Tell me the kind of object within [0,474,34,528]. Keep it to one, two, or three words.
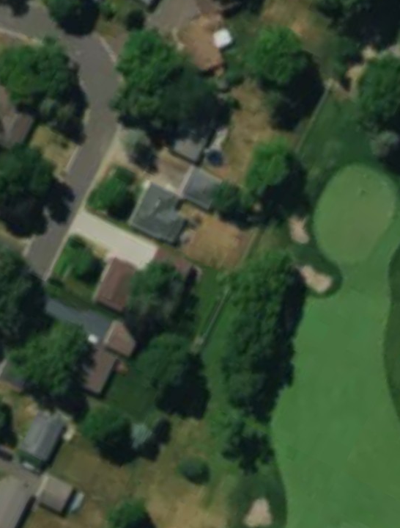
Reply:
house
